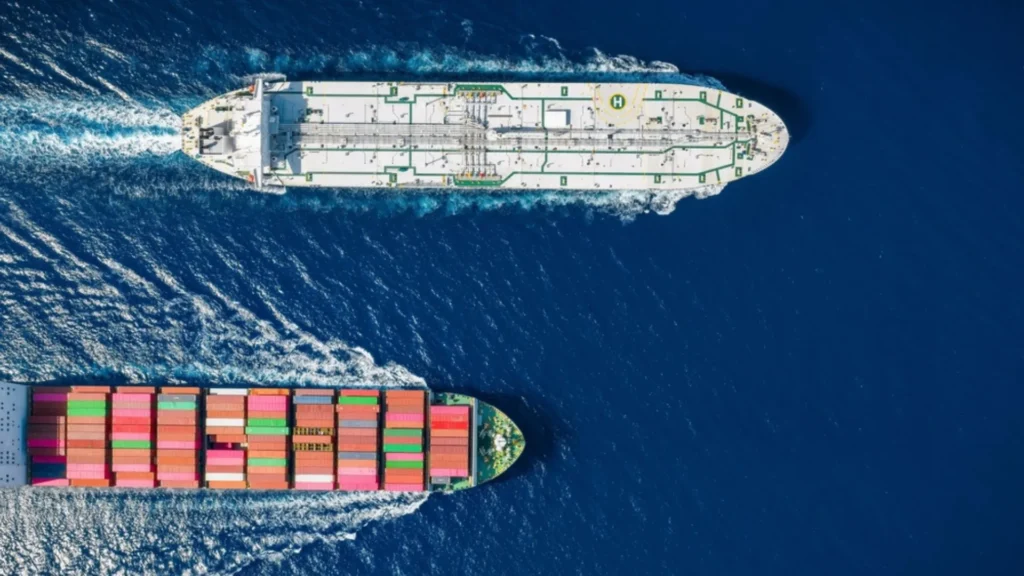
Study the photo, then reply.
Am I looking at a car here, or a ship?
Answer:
ship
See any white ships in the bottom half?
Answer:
No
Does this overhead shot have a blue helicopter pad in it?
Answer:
No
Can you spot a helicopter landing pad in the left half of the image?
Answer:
No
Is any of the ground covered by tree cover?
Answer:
No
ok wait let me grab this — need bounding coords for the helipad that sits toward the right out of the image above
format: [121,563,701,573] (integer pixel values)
[590,85,647,126]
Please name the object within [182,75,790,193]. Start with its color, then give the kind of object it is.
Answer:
white ship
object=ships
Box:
[182,75,790,193]
[0,380,525,491]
